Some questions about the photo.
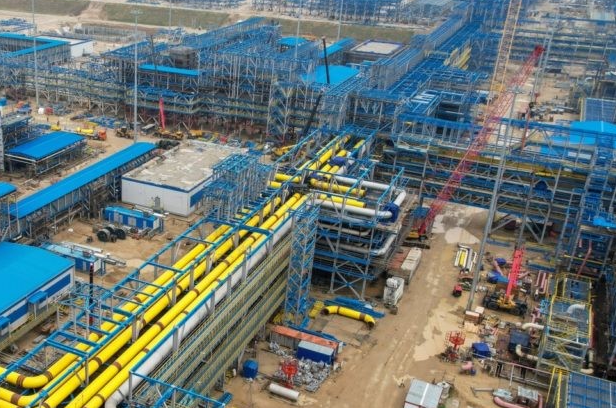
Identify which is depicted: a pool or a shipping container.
shipping container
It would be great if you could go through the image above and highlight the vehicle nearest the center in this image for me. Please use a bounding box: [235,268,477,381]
[254,142,277,155]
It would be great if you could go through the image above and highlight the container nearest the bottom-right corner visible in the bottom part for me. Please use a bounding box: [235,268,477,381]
[397,250,425,281]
